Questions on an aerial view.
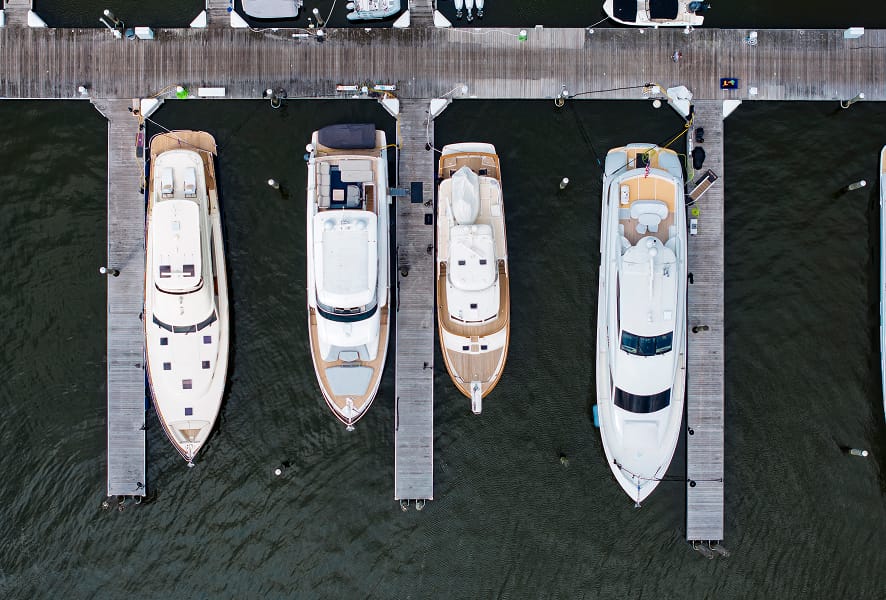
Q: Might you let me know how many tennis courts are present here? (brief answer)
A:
zero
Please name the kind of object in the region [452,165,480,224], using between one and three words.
boat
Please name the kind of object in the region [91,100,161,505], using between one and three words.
pier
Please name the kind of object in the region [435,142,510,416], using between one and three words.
boat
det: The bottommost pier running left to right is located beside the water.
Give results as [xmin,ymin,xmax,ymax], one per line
[0,19,886,108]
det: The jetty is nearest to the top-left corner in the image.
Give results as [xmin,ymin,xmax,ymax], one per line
[4,0,33,27]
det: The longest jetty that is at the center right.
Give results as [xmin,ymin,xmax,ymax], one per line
[667,100,742,550]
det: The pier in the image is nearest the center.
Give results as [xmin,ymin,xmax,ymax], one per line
[379,100,449,508]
